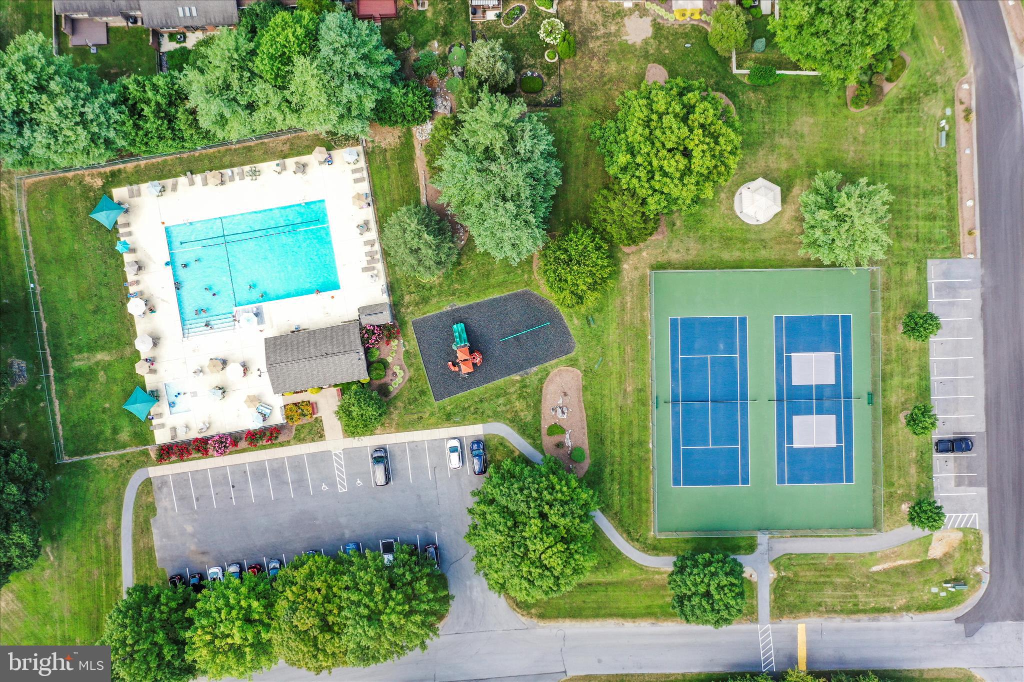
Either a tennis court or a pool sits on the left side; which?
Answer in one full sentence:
There is a pool on the left side.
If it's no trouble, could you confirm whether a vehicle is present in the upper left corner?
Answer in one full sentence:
No, there is no vehicle in the upper left corner.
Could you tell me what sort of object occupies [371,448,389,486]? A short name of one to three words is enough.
car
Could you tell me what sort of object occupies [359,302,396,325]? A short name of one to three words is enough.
shed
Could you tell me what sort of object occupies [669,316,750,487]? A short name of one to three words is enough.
tennis court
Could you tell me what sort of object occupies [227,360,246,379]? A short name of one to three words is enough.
umbrella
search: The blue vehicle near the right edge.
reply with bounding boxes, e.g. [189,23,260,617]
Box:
[932,438,973,454]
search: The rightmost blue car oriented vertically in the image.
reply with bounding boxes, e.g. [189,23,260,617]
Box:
[470,440,487,475]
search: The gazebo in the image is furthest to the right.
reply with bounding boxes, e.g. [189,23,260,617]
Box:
[734,177,781,224]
